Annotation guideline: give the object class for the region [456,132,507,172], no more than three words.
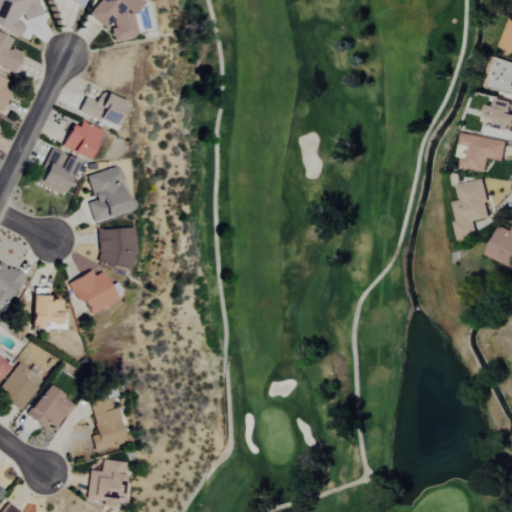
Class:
house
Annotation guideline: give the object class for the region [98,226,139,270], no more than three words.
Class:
house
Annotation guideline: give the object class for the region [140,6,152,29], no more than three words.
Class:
swimming pool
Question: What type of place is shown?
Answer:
golf course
